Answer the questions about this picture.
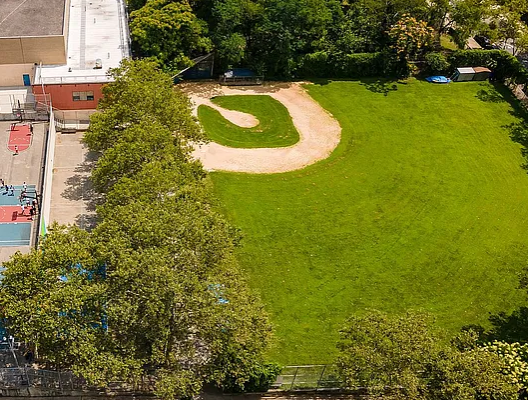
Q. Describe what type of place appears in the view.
sports ground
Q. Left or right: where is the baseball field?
right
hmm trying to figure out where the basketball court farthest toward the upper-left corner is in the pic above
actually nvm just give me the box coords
[6,124,32,153]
